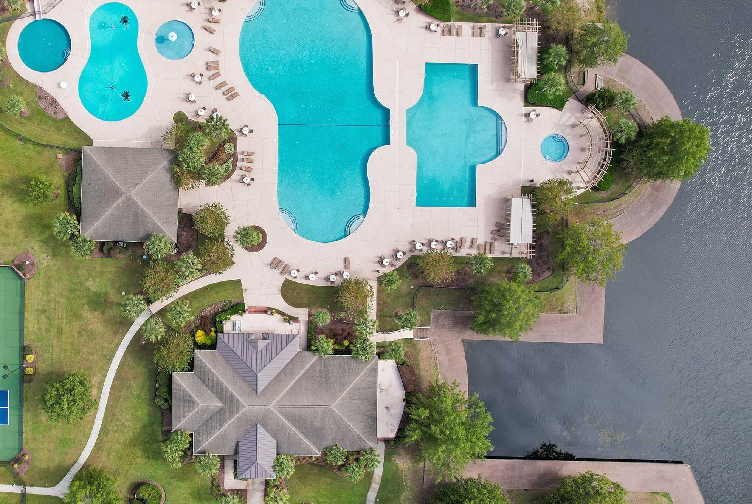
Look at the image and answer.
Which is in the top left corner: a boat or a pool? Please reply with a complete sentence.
You can see a pool in the top left corner.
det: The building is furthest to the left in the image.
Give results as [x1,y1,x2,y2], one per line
[81,146,179,243]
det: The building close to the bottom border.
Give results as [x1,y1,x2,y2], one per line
[171,333,378,479]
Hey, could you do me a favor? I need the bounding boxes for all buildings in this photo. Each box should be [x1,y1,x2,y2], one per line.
[81,146,179,243]
[171,333,378,479]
